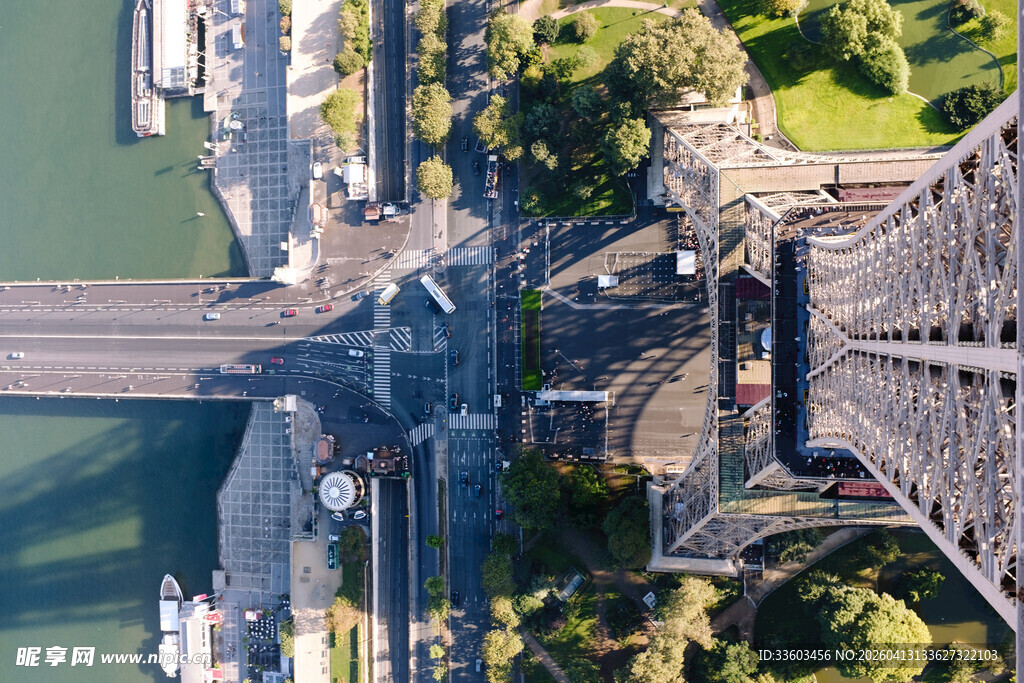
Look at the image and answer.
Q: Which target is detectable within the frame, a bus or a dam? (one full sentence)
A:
I can see a bus in this picture.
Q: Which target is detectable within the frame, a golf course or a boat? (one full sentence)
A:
Looking from above, you can make out a boat.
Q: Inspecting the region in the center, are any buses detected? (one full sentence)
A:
Yes, a bus shows up in the center.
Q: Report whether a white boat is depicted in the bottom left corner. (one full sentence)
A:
Yes, the scene does show a white boat in the bottom left corner.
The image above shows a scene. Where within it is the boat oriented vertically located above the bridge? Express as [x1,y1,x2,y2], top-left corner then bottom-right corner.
[131,0,167,137]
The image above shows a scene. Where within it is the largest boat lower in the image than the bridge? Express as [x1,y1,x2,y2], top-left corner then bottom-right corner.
[159,573,185,677]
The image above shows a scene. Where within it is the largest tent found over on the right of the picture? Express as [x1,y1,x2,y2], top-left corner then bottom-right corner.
[677,251,696,275]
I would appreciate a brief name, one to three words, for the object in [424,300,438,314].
car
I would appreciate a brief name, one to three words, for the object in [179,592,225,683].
pier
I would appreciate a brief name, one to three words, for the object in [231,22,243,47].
vehicle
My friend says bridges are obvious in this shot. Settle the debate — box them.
[0,277,299,403]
